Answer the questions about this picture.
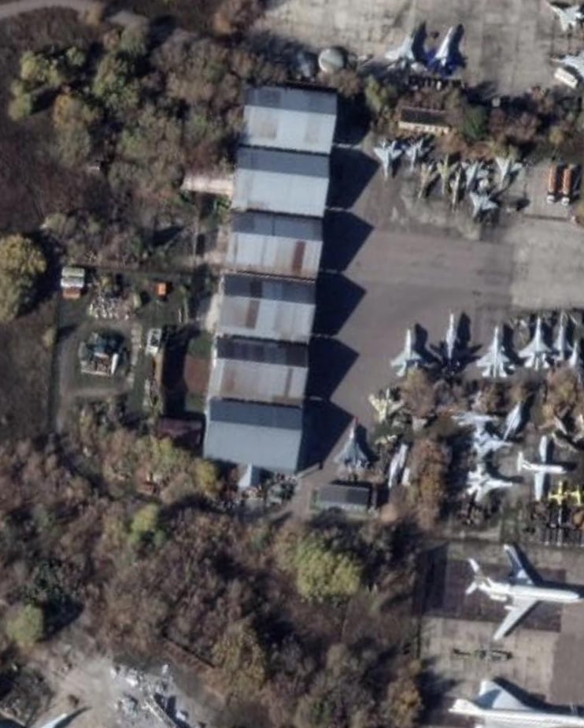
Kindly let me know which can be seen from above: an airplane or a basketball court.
airplane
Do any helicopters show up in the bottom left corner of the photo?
No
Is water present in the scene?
No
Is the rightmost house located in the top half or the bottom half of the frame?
top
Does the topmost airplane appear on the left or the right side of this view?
right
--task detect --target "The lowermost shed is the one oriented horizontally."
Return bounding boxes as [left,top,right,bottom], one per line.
[317,484,371,512]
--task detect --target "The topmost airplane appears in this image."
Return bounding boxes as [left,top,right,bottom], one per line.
[550,1,584,31]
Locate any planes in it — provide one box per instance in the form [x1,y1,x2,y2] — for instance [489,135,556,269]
[402,138,428,171]
[494,155,519,189]
[569,485,584,507]
[387,29,421,81]
[468,431,511,461]
[519,320,555,372]
[415,160,435,198]
[435,155,458,194]
[519,439,566,501]
[473,187,497,218]
[336,422,371,476]
[549,485,569,509]
[552,314,573,363]
[546,415,570,438]
[502,403,519,439]
[465,155,490,190]
[432,312,469,375]
[463,467,510,504]
[449,680,584,728]
[427,25,462,81]
[451,165,467,211]
[389,328,425,380]
[371,139,399,182]
[460,544,582,638]
[550,1,584,31]
[477,327,513,381]
[371,387,401,419]
[556,55,584,78]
